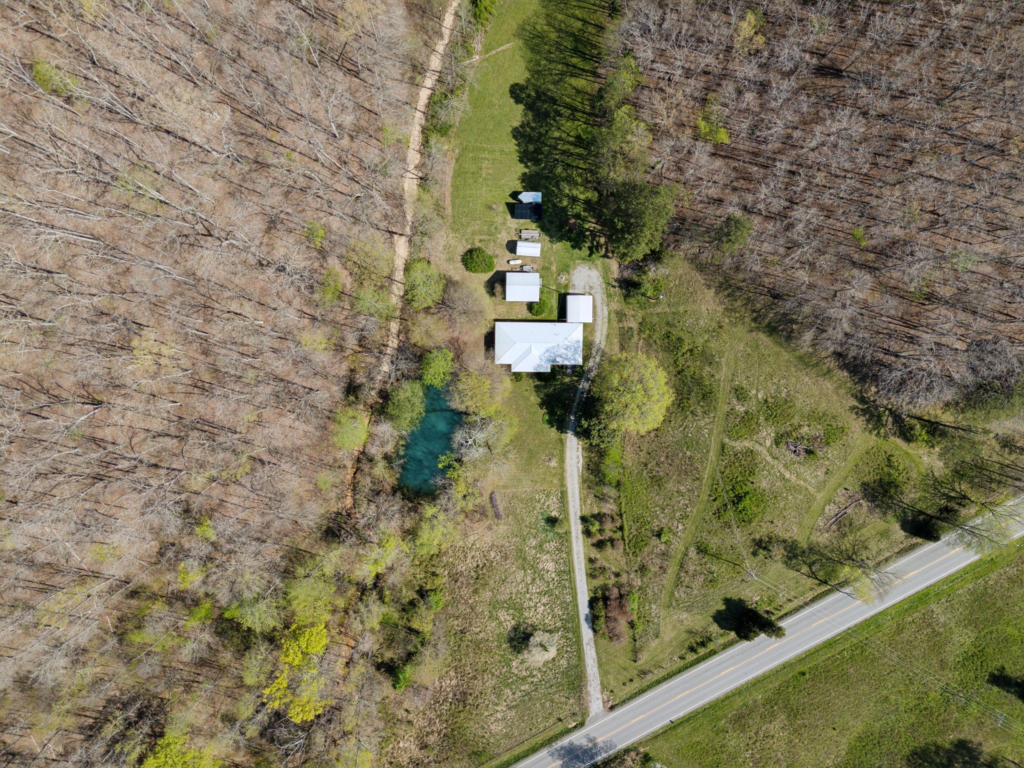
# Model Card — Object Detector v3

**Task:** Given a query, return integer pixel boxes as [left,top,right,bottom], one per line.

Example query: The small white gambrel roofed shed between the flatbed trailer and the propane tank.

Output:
[517,241,541,257]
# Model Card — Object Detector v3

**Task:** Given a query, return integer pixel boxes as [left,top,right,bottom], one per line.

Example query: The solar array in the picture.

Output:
[515,204,542,220]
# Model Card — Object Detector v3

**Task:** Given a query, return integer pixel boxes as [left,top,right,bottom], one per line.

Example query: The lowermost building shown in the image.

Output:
[495,322,583,373]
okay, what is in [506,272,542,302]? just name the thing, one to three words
building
